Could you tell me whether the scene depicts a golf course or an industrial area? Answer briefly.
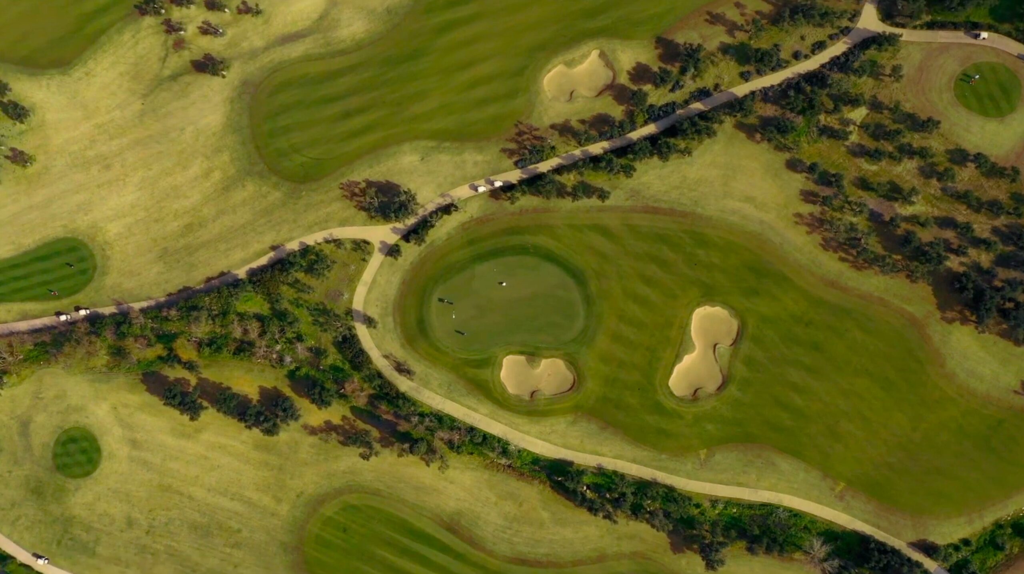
golf course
